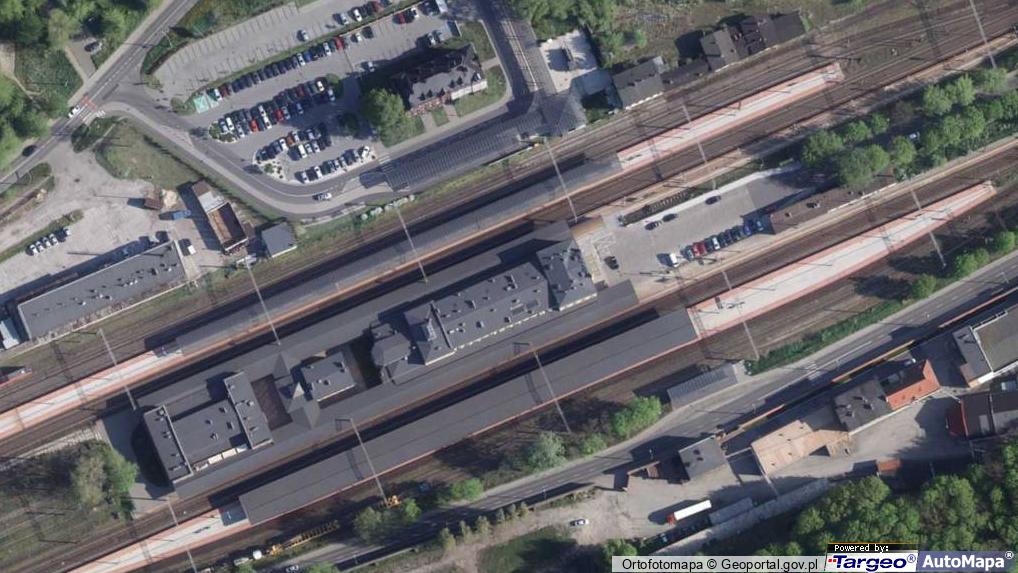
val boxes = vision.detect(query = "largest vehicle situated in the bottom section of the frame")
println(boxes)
[665,498,713,524]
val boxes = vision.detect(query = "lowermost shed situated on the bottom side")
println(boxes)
[709,498,754,526]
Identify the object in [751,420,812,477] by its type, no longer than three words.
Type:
building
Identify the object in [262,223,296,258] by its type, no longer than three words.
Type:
shed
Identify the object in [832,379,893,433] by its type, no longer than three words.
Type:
house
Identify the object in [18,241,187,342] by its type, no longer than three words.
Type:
building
